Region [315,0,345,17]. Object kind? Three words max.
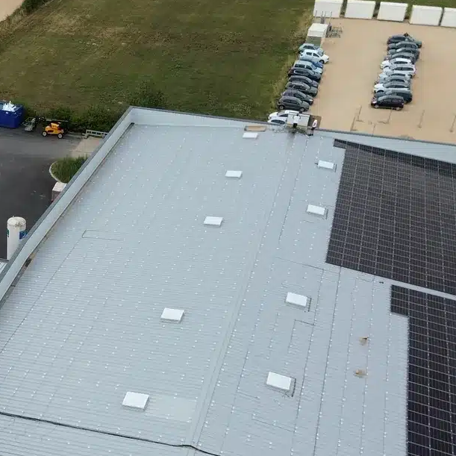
building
